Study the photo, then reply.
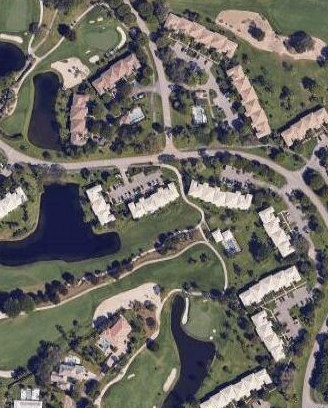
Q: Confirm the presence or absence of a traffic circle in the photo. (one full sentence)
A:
No, there's no traffic circle here.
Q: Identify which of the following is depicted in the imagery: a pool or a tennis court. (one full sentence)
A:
The one in the frame is a pool.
